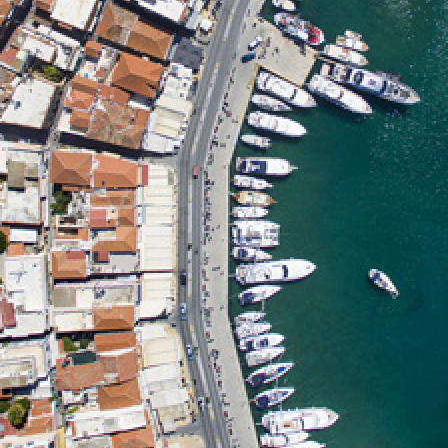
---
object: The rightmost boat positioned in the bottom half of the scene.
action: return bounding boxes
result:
[368,267,400,301]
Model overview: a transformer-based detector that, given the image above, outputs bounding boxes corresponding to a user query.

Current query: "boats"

[245,92,293,112]
[336,34,368,52]
[231,286,283,314]
[243,346,286,366]
[242,364,294,404]
[232,334,285,353]
[230,259,318,287]
[250,69,318,107]
[274,0,297,11]
[226,220,280,249]
[235,190,281,207]
[242,112,308,138]
[256,408,341,438]
[322,42,369,65]
[241,132,271,148]
[273,11,325,44]
[311,56,422,105]
[249,387,296,423]
[343,25,368,42]
[227,249,272,269]
[235,310,266,327]
[231,322,272,350]
[231,158,299,176]
[227,206,269,224]
[376,69,402,81]
[368,267,400,301]
[302,72,375,113]
[254,432,311,448]
[228,175,271,192]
